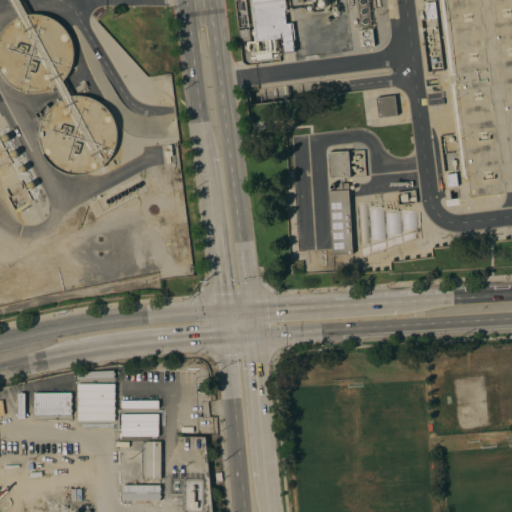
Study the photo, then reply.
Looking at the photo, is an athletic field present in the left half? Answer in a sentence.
No, there is no athletic field in the left half.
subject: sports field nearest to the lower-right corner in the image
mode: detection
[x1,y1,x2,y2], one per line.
[445,448,512,512]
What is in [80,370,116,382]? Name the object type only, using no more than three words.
shed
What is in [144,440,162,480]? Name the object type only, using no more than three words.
shed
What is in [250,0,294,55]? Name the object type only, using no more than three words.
building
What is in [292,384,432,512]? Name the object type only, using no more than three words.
sports field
